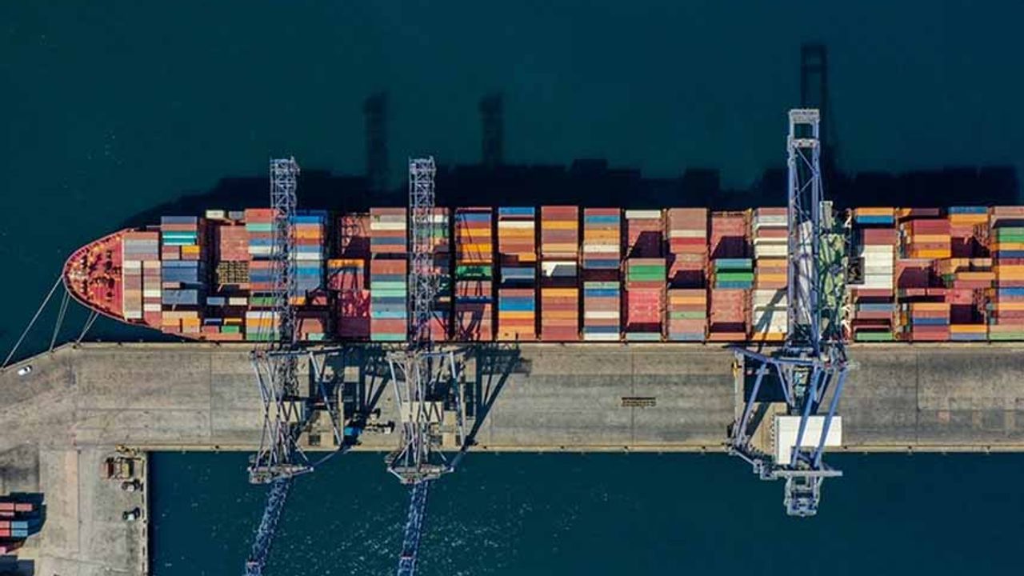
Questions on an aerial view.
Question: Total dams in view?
none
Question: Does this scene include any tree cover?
No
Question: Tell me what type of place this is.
port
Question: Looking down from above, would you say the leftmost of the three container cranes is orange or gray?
gray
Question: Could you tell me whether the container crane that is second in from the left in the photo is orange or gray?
gray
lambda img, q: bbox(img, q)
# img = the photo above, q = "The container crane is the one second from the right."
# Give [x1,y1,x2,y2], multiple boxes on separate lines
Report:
[386,156,476,576]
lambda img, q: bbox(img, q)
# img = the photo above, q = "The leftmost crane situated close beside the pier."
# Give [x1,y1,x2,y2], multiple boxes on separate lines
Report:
[244,156,360,576]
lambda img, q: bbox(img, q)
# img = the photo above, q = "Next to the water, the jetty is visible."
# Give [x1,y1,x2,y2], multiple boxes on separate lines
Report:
[148,344,1024,451]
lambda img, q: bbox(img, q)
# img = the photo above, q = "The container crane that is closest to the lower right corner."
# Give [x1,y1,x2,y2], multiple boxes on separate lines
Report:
[717,109,853,516]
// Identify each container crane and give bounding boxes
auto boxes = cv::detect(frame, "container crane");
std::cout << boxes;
[244,156,360,576]
[386,156,476,576]
[717,109,853,516]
